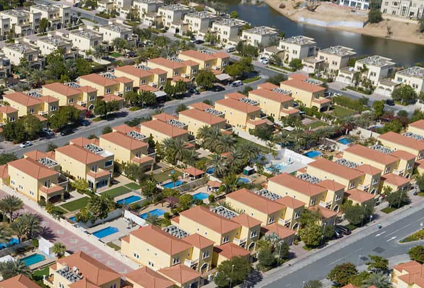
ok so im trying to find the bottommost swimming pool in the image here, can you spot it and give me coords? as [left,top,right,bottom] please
[14,251,51,268]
